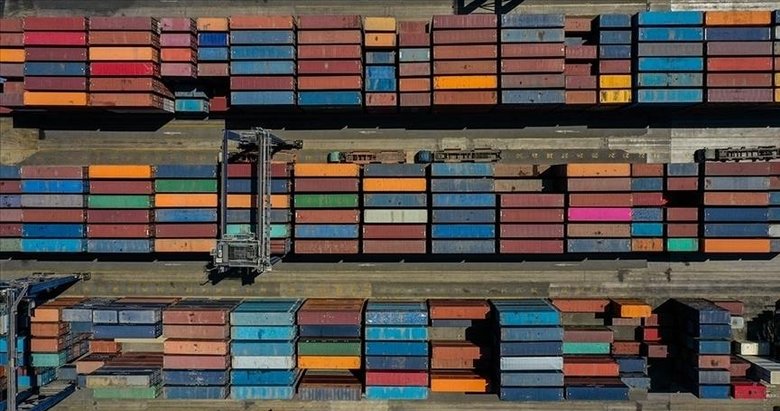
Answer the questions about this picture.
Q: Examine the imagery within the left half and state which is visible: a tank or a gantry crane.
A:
gantry crane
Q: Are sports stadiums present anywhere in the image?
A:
No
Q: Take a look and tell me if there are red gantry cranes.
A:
No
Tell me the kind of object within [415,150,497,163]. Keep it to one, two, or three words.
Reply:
vehicle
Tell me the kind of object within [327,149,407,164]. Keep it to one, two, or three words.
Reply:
vehicle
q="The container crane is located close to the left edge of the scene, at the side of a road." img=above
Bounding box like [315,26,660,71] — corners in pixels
[0,275,88,411]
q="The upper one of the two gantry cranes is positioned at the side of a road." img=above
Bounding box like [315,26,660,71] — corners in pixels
[211,128,304,273]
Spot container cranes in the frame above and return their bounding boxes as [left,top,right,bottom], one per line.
[211,128,304,273]
[0,275,88,411]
